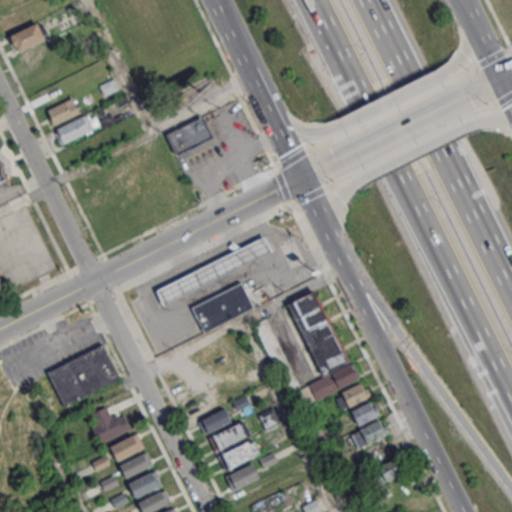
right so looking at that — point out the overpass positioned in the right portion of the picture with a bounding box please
[282,28,512,254]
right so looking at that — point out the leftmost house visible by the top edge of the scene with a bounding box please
[10,22,44,51]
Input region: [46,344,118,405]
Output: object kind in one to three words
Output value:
building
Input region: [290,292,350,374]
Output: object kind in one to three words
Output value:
building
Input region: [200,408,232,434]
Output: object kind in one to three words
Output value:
house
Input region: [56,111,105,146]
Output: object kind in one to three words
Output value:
house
